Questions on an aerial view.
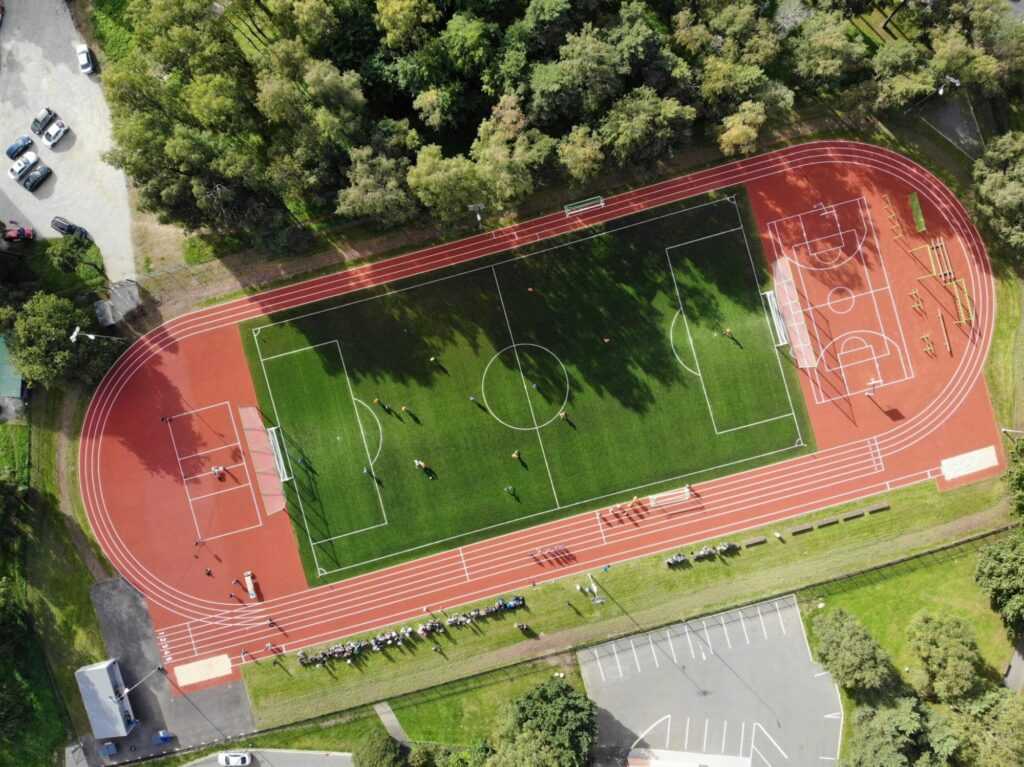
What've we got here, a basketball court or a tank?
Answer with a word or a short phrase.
basketball court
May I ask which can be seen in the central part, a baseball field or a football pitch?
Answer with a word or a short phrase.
football pitch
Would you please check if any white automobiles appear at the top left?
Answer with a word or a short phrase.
Yes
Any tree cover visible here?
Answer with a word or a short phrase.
Yes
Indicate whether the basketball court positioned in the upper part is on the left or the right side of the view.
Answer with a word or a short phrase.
right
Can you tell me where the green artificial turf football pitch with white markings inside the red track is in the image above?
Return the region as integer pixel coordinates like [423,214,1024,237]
[239,186,819,587]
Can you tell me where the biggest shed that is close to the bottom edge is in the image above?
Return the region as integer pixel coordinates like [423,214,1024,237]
[73,658,134,739]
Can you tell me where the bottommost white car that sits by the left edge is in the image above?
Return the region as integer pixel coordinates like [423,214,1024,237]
[8,153,40,179]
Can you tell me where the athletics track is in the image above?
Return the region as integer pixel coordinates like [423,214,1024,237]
[78,142,1005,697]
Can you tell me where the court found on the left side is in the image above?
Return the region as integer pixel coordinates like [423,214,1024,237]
[168,402,262,542]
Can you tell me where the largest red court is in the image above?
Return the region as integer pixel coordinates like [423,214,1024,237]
[767,196,914,404]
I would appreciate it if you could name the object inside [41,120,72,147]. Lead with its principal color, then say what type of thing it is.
white car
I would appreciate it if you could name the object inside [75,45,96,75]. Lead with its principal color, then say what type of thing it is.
white car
